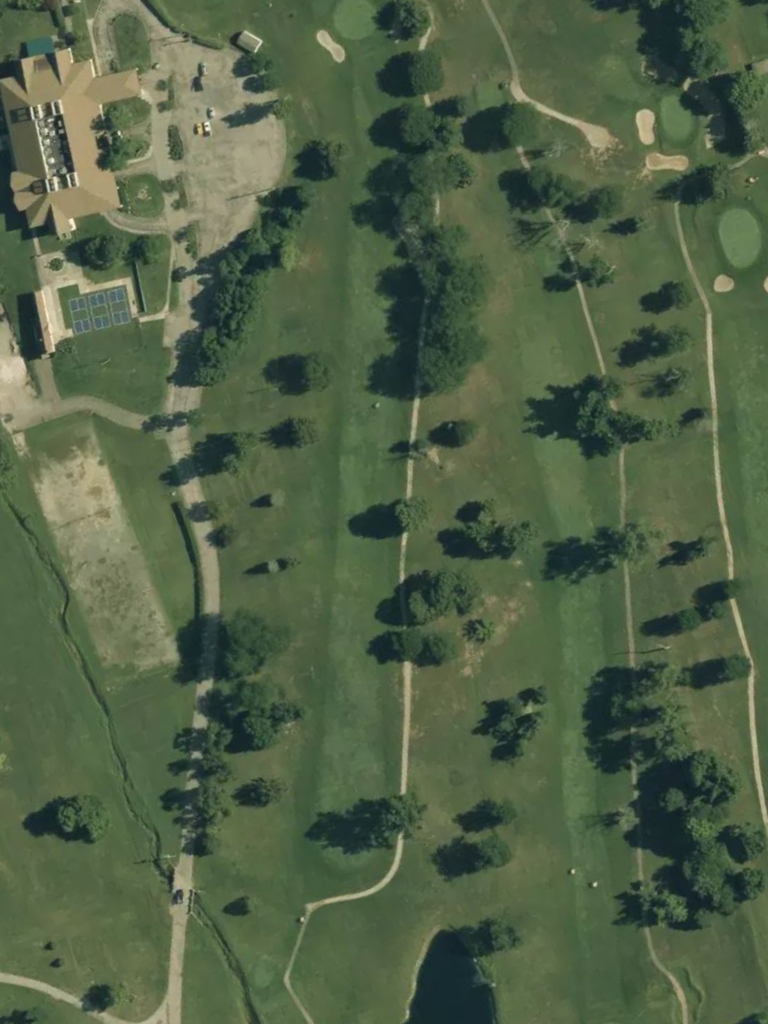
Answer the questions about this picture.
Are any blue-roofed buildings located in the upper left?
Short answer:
No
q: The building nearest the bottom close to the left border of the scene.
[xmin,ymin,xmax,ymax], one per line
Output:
[35,291,56,358]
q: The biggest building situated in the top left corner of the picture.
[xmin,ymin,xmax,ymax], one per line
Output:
[1,48,140,241]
